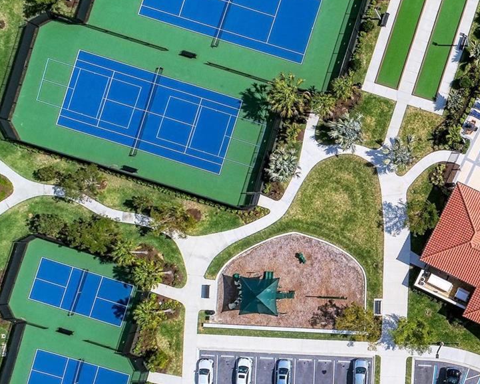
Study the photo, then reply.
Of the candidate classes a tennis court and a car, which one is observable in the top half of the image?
tennis court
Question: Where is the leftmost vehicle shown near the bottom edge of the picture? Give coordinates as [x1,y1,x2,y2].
[196,357,214,384]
